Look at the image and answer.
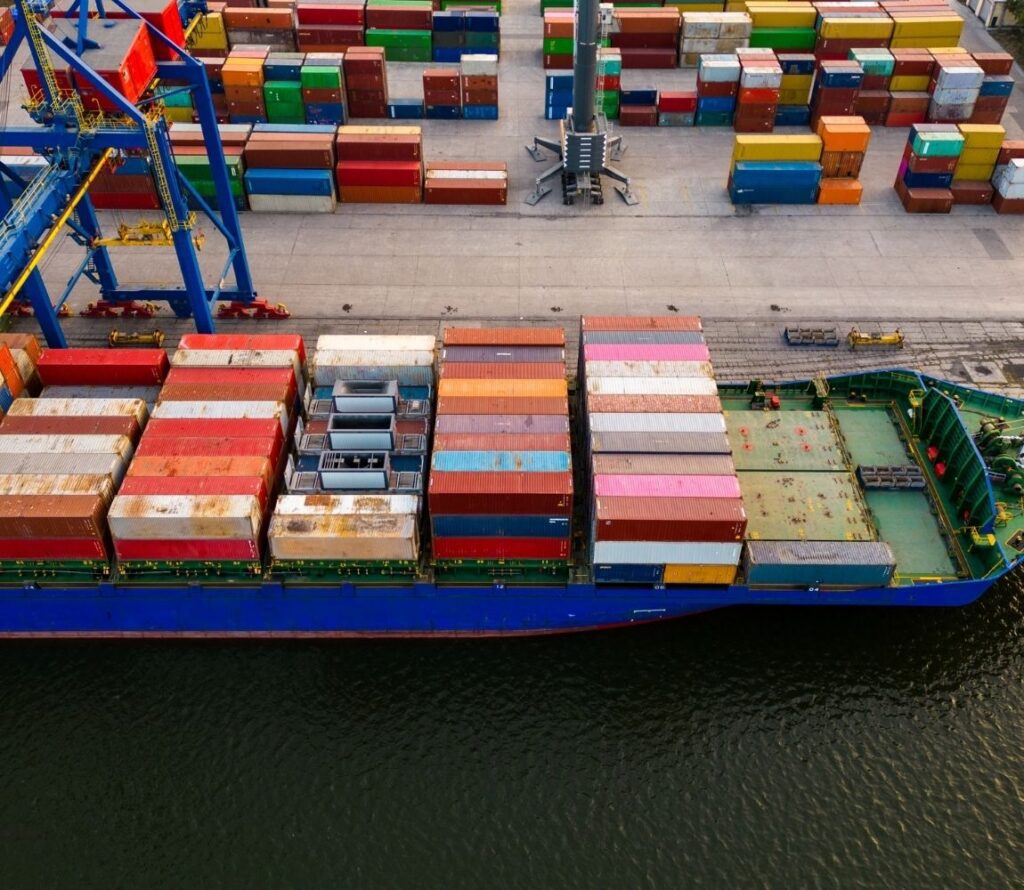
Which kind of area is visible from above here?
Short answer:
port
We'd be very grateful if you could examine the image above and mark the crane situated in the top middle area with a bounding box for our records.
[522,0,643,209]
